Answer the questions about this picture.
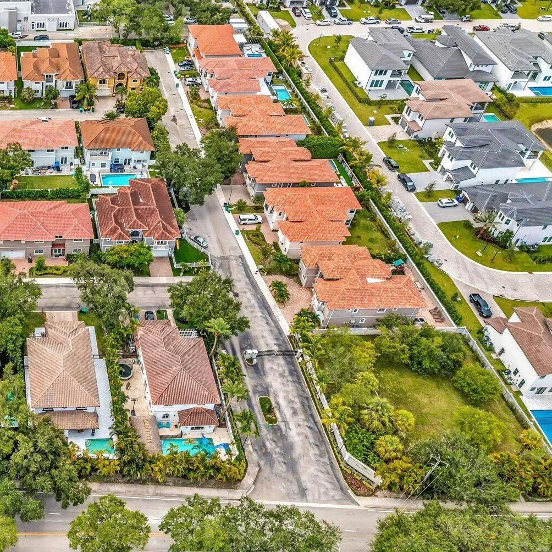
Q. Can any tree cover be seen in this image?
Yes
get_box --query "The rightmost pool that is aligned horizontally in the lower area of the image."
[159,439,218,455]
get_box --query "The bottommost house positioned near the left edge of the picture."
[26,321,101,437]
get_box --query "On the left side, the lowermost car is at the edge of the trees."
[144,303,156,319]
